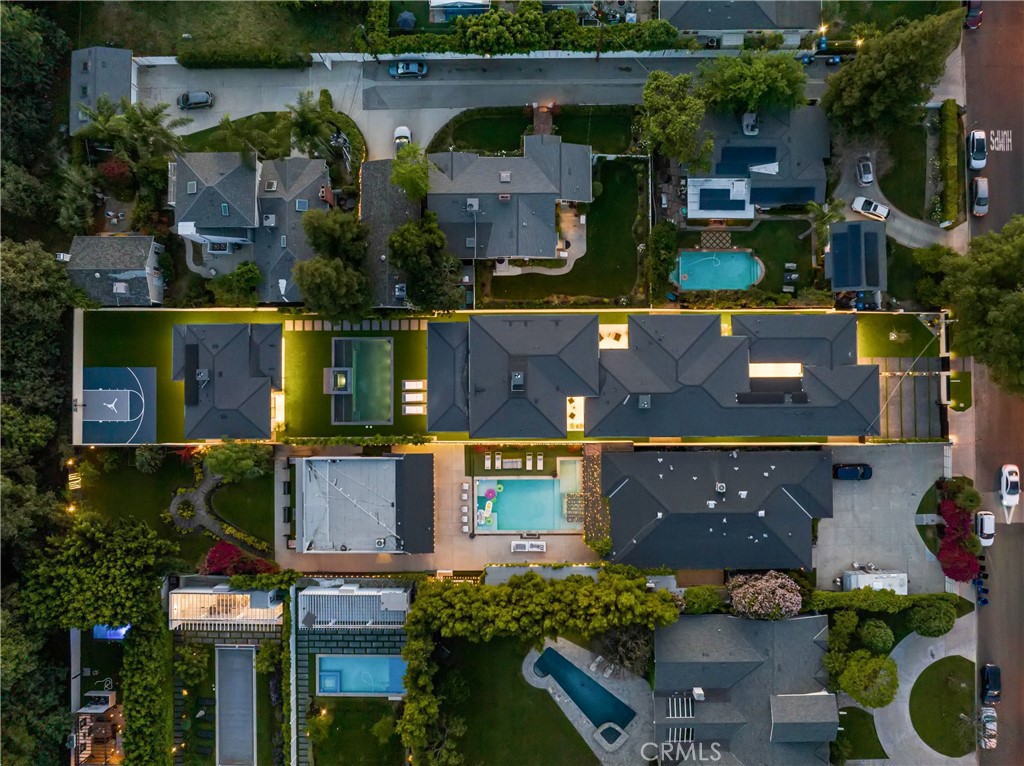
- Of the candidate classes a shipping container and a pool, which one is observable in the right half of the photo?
pool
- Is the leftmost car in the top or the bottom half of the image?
top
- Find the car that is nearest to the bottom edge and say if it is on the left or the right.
right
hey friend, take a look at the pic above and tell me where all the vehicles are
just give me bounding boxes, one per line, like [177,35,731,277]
[853,150,876,189]
[832,461,872,481]
[969,177,992,218]
[848,194,893,222]
[392,122,411,155]
[973,510,998,546]
[977,706,1000,749]
[978,661,1003,705]
[961,0,985,35]
[997,463,1021,504]
[837,568,907,594]
[177,89,216,111]
[966,128,989,171]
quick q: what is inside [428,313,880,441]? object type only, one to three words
house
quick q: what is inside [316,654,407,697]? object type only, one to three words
swimming pool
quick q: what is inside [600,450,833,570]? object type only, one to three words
house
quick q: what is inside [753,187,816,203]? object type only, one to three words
solar panel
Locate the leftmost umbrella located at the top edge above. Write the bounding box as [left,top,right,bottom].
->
[397,13,415,31]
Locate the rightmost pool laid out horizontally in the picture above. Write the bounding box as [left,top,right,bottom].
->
[674,250,767,291]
